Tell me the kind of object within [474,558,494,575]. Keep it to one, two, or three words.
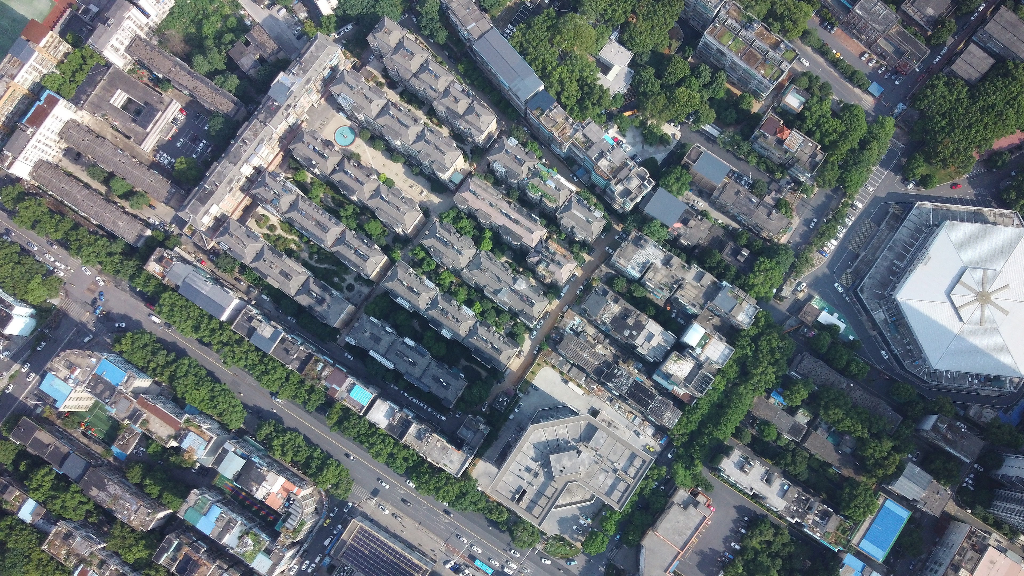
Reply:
vehicle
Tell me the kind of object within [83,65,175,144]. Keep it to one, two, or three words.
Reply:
building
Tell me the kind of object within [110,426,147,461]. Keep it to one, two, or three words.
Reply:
house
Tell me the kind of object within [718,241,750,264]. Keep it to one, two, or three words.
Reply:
building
